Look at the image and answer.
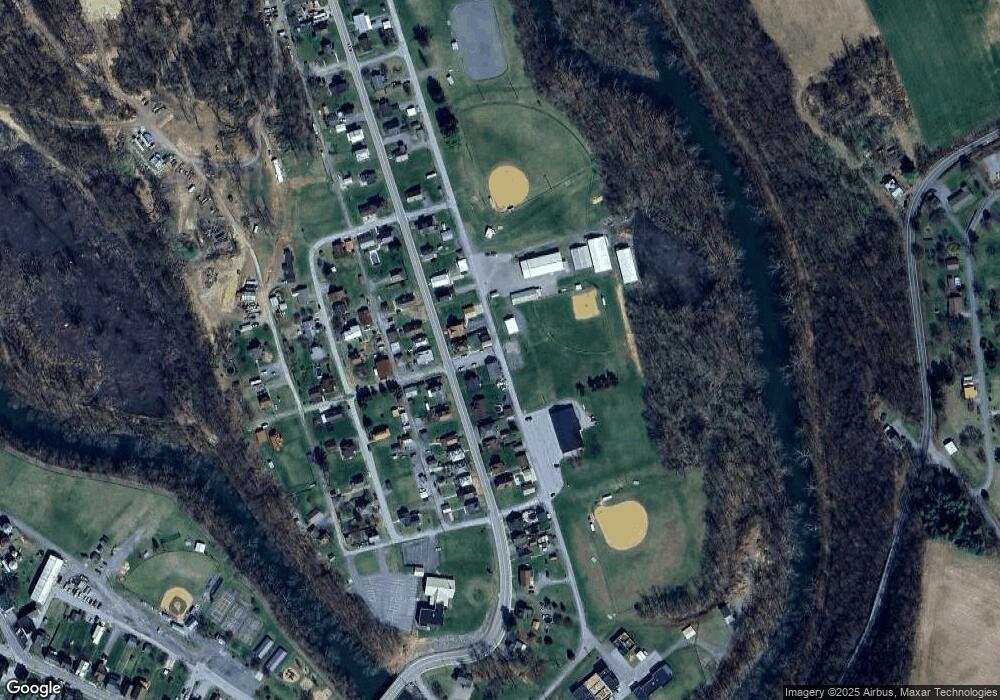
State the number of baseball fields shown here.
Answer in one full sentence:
The picture shows 4 baseball fields.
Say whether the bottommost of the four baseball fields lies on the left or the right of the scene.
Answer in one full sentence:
You can find the bottommost of the four baseball fields on the left side of the picture.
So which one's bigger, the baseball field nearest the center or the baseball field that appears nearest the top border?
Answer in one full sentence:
The baseball field that appears nearest the top border takes up more space than the baseball field nearest the center does.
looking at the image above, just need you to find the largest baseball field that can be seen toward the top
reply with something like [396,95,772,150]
[462,103,593,215]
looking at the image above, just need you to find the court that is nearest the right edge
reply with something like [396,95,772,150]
[450,0,508,81]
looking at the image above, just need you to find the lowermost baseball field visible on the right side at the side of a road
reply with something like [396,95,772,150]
[588,474,702,604]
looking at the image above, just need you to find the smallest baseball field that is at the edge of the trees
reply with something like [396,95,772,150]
[549,287,612,351]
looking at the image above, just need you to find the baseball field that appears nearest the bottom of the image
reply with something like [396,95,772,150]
[122,551,220,625]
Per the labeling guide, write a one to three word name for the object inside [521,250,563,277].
building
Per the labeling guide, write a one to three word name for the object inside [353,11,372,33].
house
